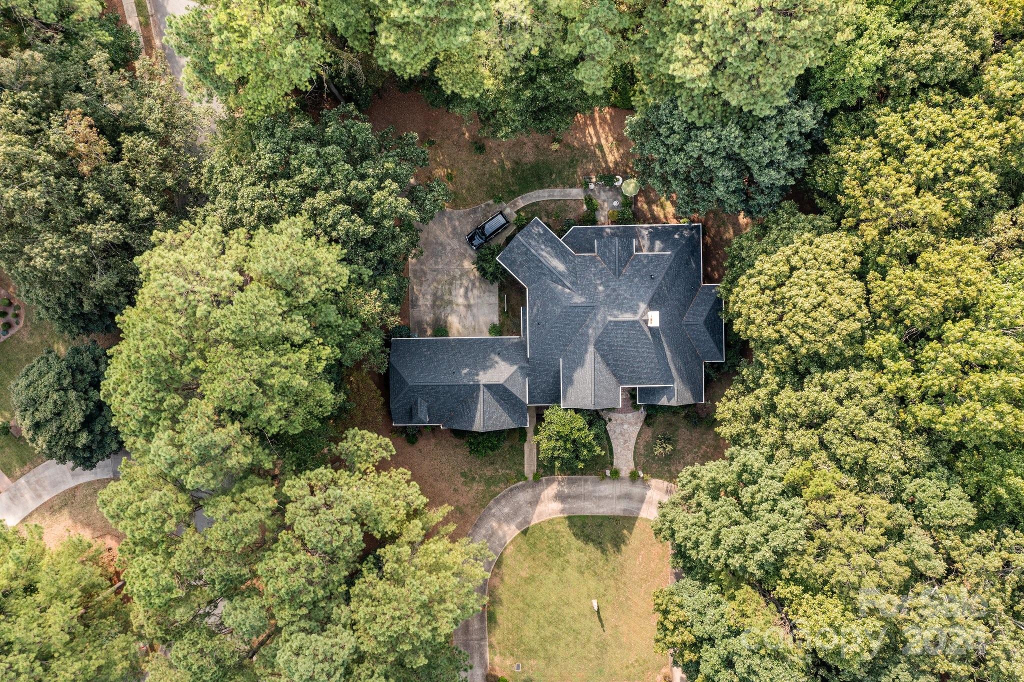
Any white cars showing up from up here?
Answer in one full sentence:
No, no white car can be seen from above.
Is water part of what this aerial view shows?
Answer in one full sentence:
No, no water is visible.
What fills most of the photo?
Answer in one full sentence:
The scene is dominated by trees.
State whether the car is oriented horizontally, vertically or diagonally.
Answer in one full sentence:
The car runs diagonally in the image.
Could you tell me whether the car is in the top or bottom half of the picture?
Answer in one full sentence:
The car sits in the top half of the picture.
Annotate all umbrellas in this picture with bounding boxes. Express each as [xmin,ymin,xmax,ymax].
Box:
[621,178,639,196]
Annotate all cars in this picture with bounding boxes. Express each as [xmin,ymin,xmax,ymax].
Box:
[467,212,510,248]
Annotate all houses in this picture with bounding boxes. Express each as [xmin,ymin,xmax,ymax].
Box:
[389,217,725,432]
